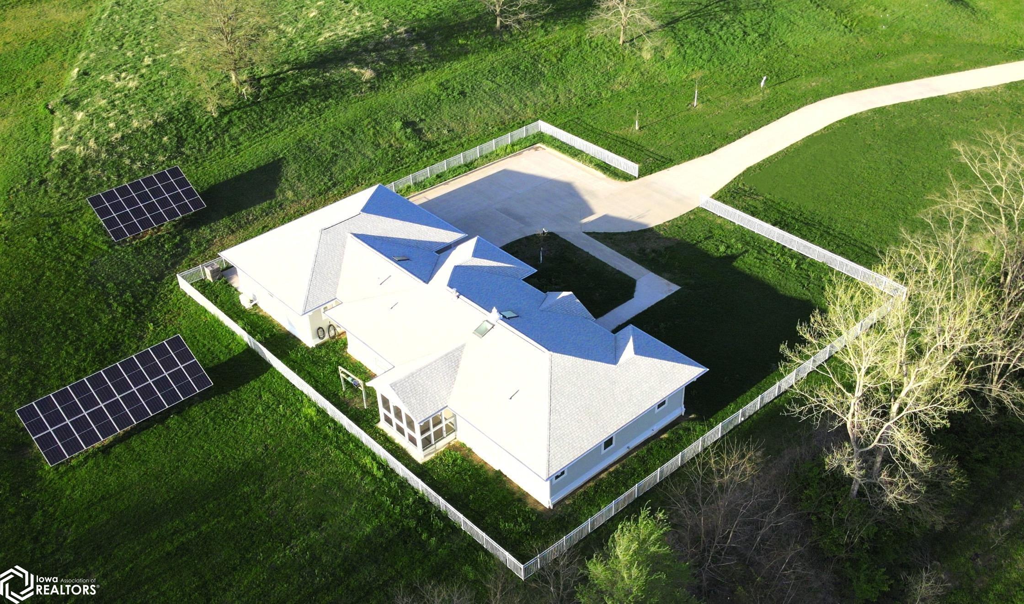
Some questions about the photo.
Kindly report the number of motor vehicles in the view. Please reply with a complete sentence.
The photo contains no motor vehicles.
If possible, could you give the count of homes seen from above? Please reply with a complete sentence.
There is 1 home in the image.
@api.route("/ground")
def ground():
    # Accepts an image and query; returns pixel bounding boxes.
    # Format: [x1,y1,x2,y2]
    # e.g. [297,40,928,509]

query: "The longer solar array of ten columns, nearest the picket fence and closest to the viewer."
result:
[17,334,212,466]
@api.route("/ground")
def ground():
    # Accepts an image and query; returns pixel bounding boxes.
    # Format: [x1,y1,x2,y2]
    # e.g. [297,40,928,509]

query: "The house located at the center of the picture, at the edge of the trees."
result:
[218,183,710,514]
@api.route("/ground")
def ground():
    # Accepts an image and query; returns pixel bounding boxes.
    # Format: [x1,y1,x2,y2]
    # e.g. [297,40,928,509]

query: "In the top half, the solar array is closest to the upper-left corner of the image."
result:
[86,168,209,243]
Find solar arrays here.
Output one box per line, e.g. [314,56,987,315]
[86,168,209,243]
[17,334,212,466]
